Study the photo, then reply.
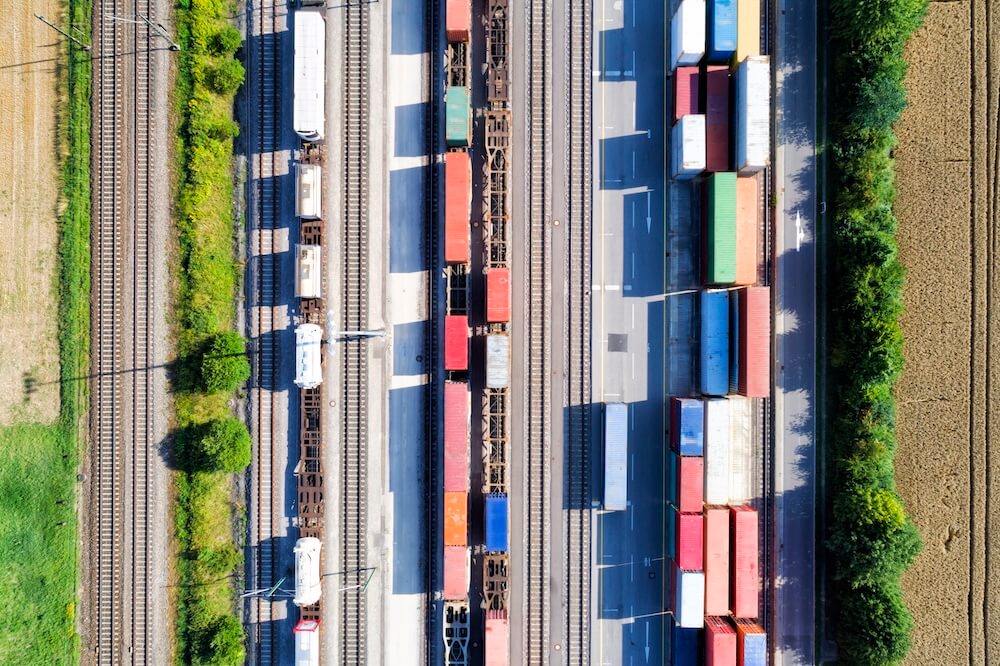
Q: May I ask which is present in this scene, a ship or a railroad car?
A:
railroad car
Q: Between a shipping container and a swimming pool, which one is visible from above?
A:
shipping container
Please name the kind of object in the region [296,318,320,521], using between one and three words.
rail car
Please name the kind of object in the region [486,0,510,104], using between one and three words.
rail car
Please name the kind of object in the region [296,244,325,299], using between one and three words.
shipping container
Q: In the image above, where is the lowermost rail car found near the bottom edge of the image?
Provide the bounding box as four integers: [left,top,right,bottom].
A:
[444,604,469,666]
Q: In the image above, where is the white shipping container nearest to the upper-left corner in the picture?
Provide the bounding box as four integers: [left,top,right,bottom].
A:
[296,165,325,222]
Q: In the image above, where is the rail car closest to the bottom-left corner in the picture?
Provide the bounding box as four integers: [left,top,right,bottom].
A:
[295,522,320,625]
